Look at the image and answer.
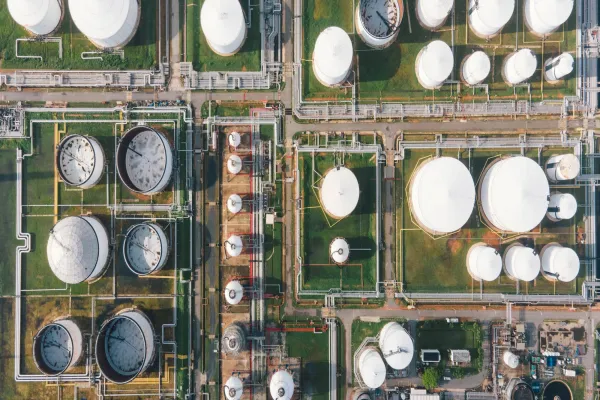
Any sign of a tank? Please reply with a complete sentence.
Yes, there's a tank here.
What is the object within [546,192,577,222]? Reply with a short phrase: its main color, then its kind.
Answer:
white storage tank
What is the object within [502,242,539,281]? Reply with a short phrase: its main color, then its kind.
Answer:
white storage tank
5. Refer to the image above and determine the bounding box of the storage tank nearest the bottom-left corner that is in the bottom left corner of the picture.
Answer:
[31,315,84,378]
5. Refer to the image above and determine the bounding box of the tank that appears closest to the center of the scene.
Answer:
[318,165,359,219]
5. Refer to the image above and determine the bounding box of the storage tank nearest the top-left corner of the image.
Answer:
[7,0,64,40]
